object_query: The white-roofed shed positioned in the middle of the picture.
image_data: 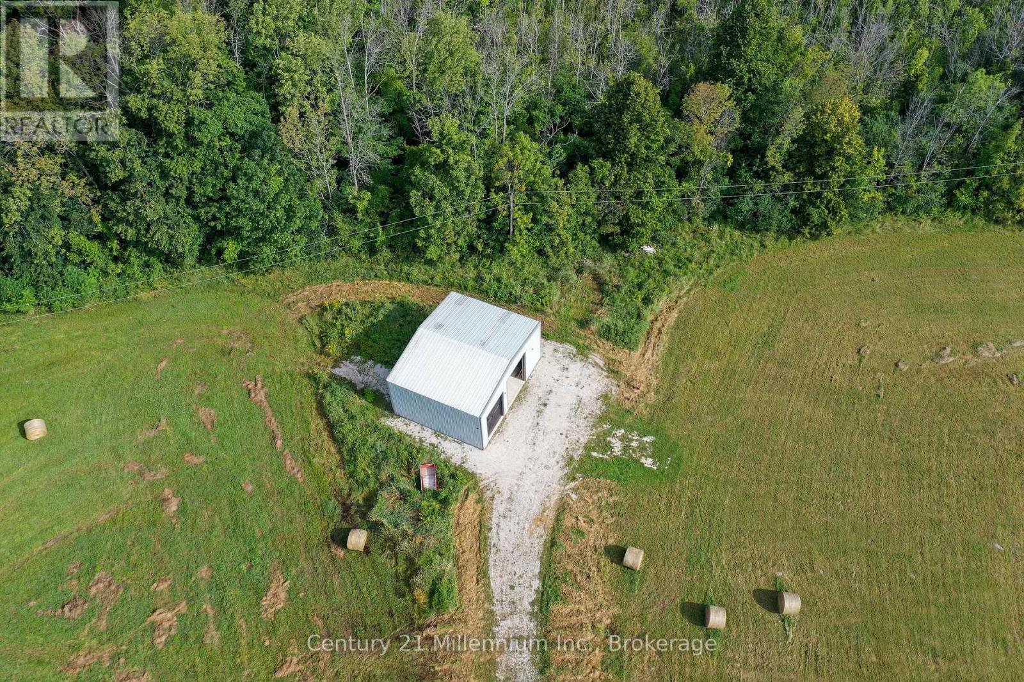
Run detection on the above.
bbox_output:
[385,292,541,451]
